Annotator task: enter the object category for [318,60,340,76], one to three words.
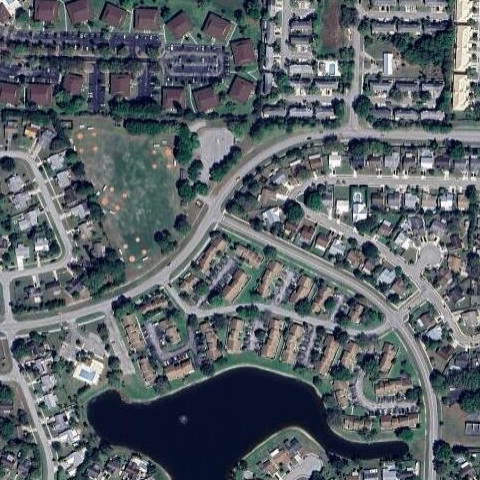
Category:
swimming pool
